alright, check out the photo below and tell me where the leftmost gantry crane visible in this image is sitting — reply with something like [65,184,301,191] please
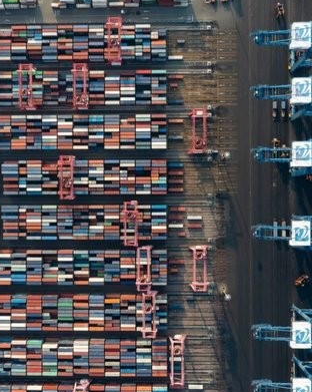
[20,61,46,112]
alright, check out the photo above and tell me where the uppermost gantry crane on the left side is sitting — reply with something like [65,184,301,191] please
[102,15,128,68]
